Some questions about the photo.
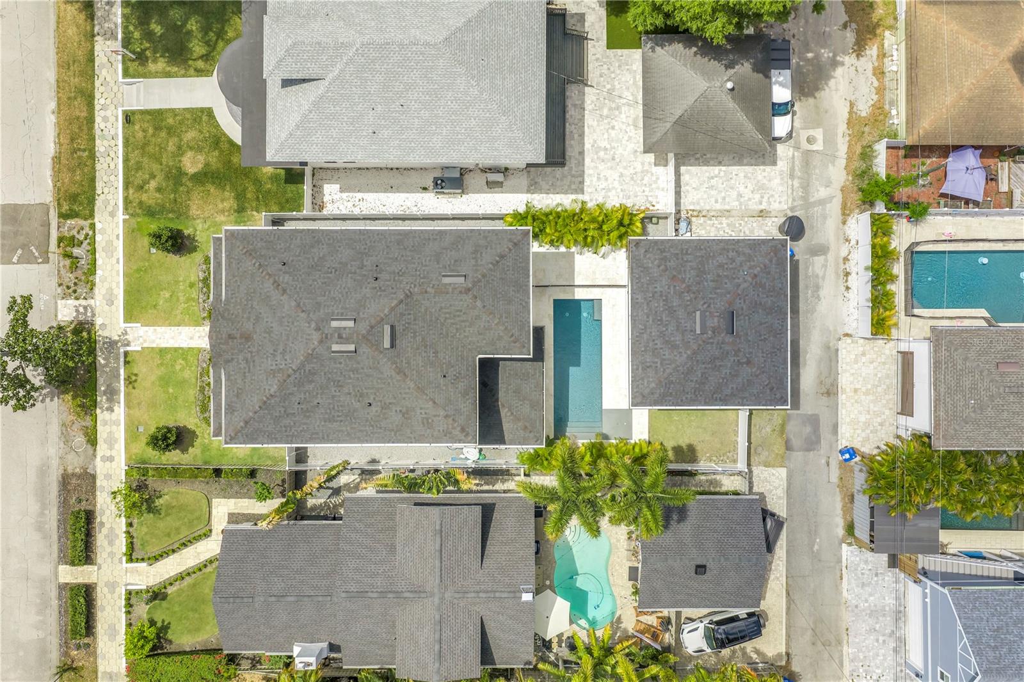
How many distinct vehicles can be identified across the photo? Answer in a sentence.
Looking from above, you can make out 3 vehicles.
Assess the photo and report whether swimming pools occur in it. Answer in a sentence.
Yes, the image includes a swimming pool.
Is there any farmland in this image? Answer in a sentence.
No, there is no farmland in the image.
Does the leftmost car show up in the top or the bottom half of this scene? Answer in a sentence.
It is in the bottom half that the leftmost car appears.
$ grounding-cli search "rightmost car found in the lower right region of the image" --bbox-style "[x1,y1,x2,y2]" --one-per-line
[762,510,792,552]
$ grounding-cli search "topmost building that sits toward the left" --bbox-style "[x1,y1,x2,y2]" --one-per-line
[216,0,547,178]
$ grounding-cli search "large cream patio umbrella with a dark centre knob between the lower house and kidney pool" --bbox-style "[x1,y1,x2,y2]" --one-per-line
[535,589,571,641]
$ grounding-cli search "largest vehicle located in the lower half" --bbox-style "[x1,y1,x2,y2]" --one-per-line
[678,611,765,654]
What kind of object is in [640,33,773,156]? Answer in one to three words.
building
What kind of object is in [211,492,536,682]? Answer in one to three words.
house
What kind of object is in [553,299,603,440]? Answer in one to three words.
swimming pool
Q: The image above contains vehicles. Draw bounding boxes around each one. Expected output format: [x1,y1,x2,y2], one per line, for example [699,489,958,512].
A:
[678,611,765,654]
[762,510,792,552]
[773,39,798,142]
